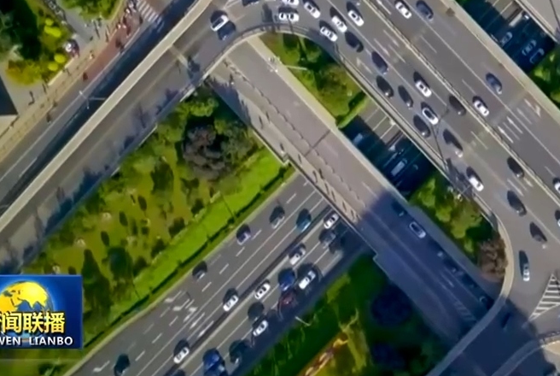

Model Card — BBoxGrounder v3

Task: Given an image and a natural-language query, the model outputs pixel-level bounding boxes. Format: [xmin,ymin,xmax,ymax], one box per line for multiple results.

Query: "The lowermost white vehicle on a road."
[173,345,190,363]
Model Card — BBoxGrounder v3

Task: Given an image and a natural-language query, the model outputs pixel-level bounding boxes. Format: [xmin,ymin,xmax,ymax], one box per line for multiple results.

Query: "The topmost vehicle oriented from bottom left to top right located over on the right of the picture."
[509,6,528,26]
